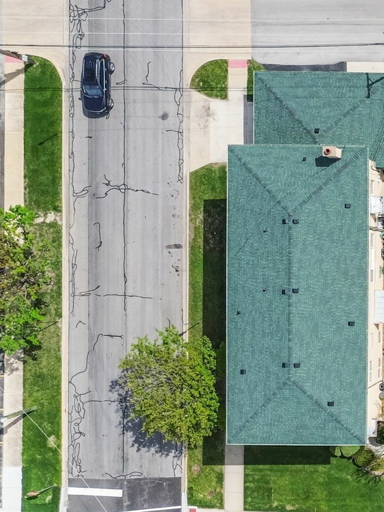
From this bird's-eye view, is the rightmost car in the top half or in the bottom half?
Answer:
top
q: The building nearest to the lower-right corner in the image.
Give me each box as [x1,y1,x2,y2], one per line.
[225,144,384,447]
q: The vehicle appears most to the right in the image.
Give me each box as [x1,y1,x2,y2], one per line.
[83,54,119,116]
